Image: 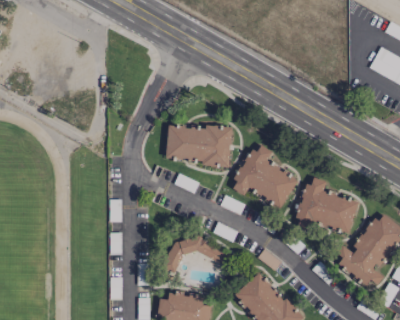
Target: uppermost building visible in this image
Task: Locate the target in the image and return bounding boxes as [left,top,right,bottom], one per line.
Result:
[166,126,234,169]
